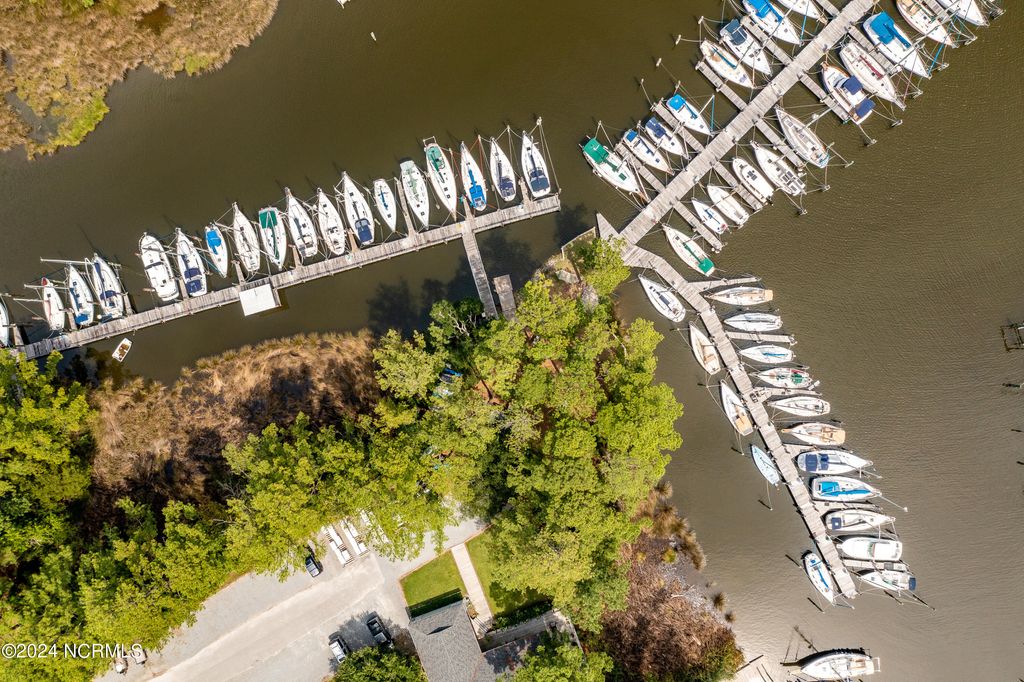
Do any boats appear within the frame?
Yes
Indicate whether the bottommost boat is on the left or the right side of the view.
right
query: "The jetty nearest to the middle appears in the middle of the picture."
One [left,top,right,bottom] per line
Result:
[492,273,516,321]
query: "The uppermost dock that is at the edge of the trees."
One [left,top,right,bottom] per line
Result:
[590,0,1002,261]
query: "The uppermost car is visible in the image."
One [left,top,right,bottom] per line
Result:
[305,551,324,578]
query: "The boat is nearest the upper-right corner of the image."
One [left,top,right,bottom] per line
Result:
[939,0,1004,37]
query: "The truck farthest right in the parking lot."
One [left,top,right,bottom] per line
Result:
[364,614,393,646]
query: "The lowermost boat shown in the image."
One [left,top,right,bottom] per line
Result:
[792,653,889,682]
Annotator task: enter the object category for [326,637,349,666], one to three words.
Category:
truck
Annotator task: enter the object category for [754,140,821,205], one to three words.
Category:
boat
